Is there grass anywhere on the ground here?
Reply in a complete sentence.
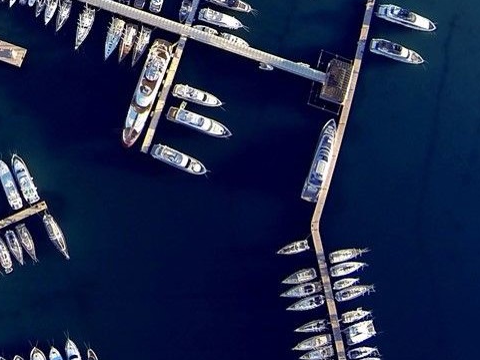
No, the picture contains no grass.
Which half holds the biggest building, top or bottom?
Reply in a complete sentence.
The biggest building sits in the top half of the picture.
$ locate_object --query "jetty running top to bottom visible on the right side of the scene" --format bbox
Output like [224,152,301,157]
[312,0,375,360]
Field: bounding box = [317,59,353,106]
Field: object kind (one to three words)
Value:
building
